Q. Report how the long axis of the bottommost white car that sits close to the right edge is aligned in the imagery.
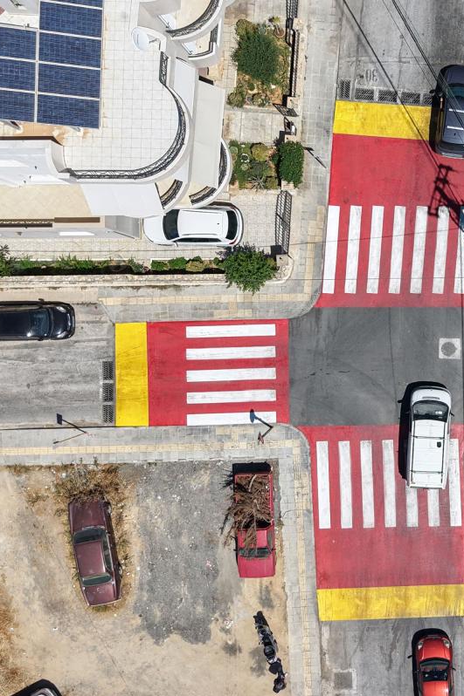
vertically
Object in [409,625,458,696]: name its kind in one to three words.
car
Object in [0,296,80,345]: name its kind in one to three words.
car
